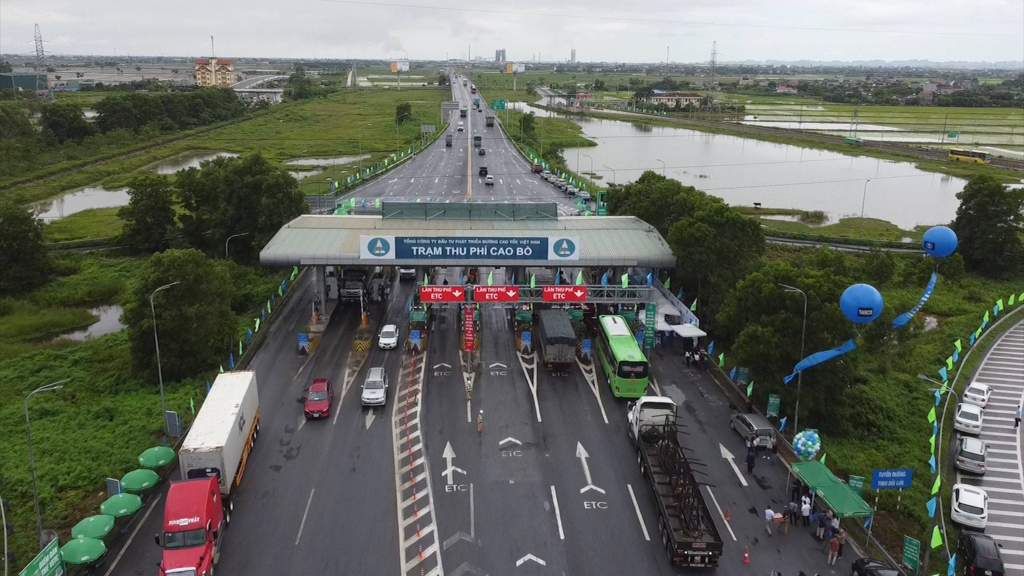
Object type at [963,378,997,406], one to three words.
car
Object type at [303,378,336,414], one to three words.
car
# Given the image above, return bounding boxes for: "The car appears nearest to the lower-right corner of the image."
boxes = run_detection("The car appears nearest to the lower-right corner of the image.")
[965,530,1018,576]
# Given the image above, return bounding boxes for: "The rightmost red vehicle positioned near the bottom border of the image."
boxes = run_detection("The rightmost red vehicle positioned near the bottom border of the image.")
[145,412,257,576]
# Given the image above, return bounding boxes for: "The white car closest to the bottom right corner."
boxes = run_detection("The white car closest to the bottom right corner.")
[950,480,992,527]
